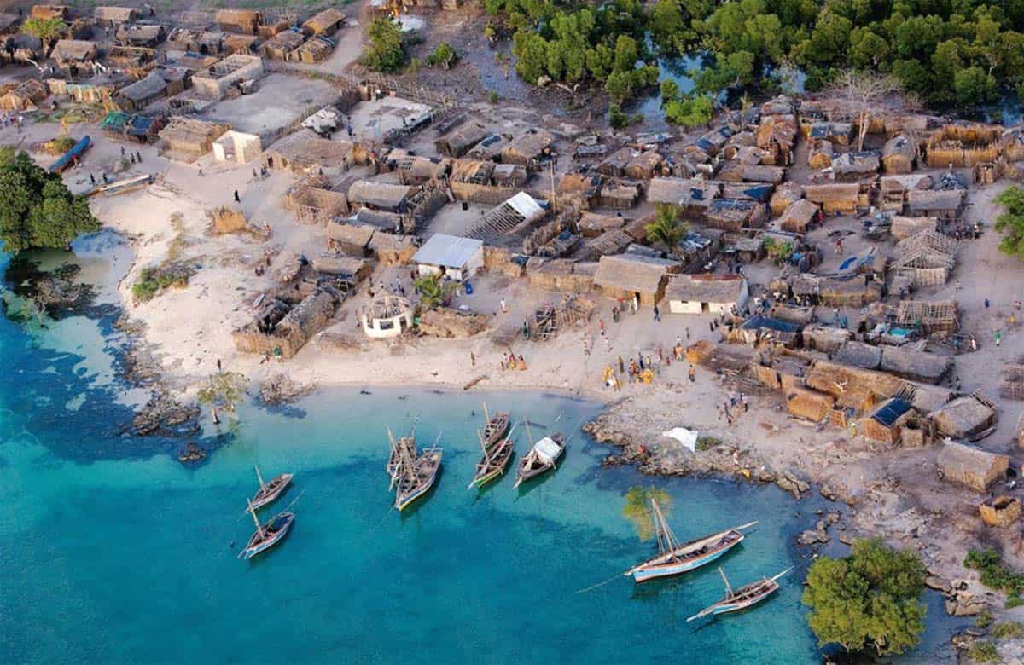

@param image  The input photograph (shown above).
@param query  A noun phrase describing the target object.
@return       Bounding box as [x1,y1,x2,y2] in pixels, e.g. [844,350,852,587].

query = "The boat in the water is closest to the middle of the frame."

[484,403,512,452]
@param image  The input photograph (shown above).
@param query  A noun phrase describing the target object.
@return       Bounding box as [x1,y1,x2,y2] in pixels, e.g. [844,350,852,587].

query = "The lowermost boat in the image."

[687,568,792,621]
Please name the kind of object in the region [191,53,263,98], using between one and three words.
house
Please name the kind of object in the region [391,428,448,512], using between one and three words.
boat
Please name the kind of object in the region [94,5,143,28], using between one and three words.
shed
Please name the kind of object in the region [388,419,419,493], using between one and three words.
boat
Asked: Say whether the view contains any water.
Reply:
Yes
